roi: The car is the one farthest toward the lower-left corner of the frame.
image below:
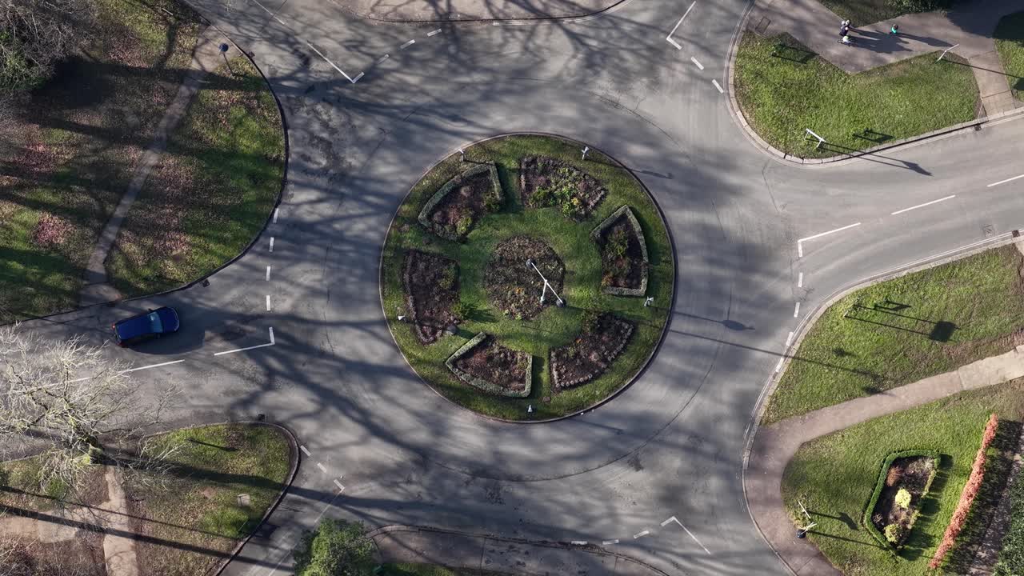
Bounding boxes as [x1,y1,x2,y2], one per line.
[114,309,182,347]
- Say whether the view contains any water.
No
